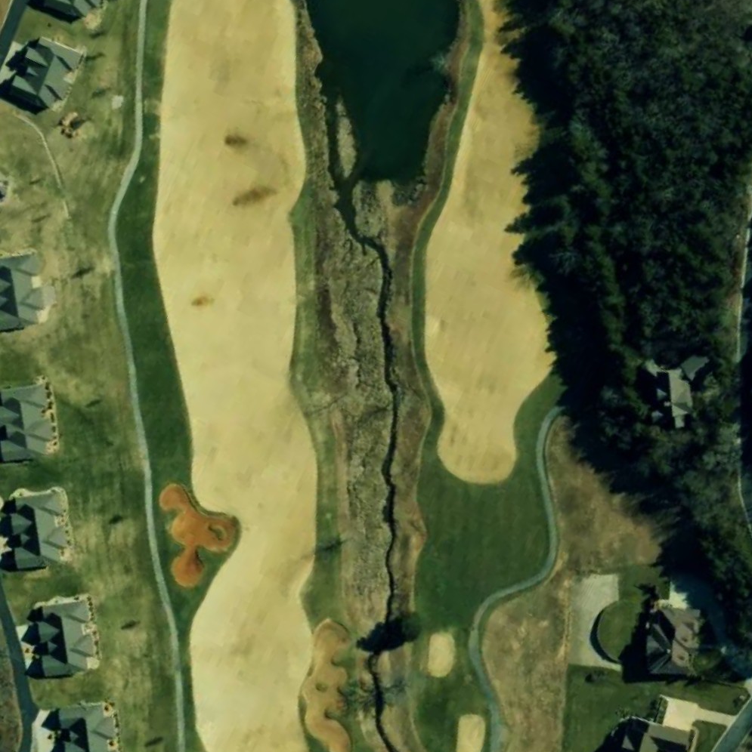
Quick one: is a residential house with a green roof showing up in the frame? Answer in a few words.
Yes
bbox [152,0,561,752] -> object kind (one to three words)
golf course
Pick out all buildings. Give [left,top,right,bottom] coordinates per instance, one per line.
[0,387,53,463]
[8,493,66,569]
[0,254,45,329]
[645,353,714,430]
[11,33,83,112]
[46,0,102,19]
[622,719,695,752]
[643,609,702,676]
[37,602,93,678]
[60,708,115,752]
